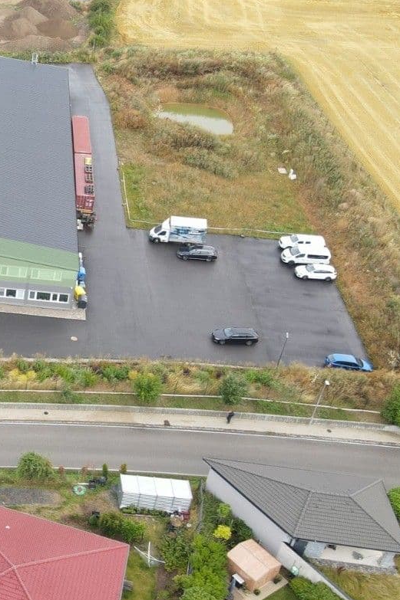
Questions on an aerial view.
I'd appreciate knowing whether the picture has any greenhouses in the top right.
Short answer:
No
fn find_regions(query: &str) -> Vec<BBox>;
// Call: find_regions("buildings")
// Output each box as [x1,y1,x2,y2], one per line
[116,474,193,514]
[0,55,83,309]
[226,540,280,593]
[0,507,131,600]
[202,457,400,574]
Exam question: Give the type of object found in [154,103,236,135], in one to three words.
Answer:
pond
